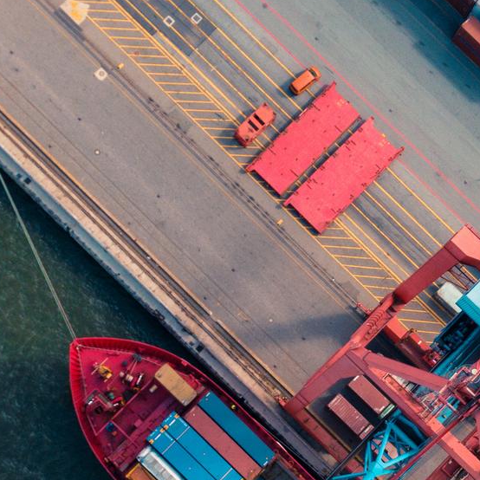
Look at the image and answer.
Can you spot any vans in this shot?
Yes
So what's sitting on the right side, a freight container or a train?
freight container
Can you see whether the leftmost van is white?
No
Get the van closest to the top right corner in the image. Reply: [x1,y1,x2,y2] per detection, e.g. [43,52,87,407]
[289,69,319,99]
